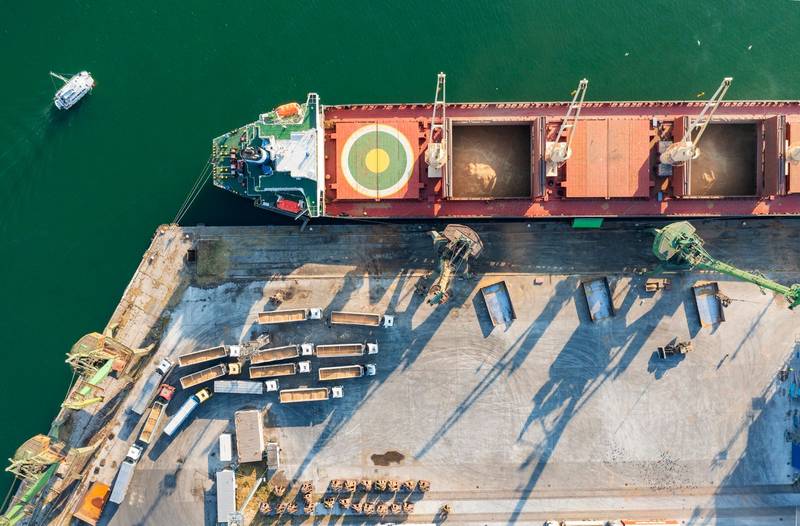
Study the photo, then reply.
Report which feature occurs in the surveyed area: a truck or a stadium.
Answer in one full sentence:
There is a truck in the scene.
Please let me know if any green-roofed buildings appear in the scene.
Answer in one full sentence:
No, this view has no green-roofed building in it.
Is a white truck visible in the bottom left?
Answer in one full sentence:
Yes, I can see a white truck in the bottom left.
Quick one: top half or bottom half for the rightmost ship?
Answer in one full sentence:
The top half of the photo is where the rightmost ship is.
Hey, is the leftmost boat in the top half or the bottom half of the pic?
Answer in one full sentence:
The leftmost boat sits in the top half of the picture.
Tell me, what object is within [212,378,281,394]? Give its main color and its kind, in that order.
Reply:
white vehicle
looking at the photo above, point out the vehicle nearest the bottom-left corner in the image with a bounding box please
[110,441,146,504]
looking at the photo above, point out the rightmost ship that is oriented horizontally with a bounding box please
[213,70,800,222]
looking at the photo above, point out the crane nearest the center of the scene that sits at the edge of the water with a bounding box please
[425,226,483,306]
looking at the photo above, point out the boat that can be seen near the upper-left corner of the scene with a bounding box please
[53,70,96,113]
